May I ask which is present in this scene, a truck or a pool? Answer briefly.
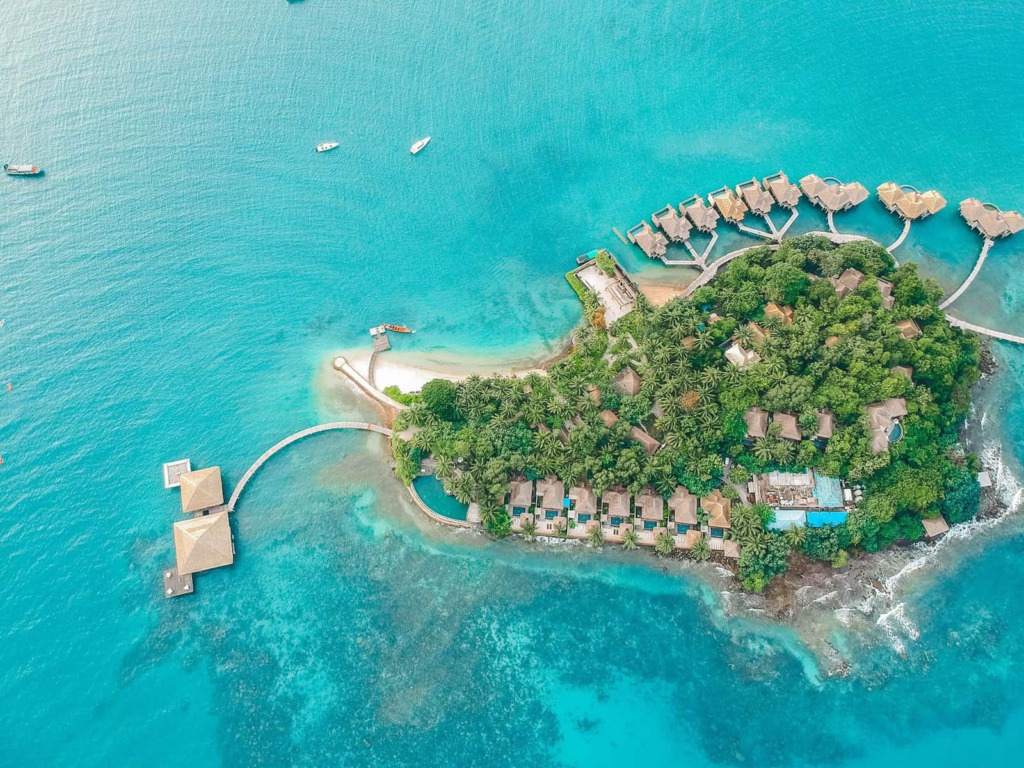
pool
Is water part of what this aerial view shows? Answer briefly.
Yes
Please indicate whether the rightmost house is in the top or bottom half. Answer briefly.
top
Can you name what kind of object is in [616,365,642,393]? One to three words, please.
building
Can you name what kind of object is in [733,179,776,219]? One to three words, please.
house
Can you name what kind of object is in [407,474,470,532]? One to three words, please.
swimming pool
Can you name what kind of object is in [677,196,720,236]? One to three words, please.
house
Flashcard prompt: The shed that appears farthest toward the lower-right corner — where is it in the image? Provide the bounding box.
[920,514,950,538]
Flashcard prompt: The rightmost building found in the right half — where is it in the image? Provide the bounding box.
[952,200,1024,243]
